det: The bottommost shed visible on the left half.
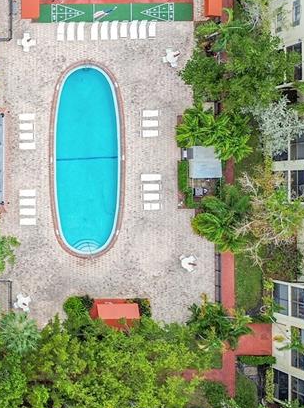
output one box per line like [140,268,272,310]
[89,300,140,331]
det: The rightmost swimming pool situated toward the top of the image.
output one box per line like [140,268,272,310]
[50,60,125,258]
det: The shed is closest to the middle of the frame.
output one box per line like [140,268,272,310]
[178,146,222,178]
